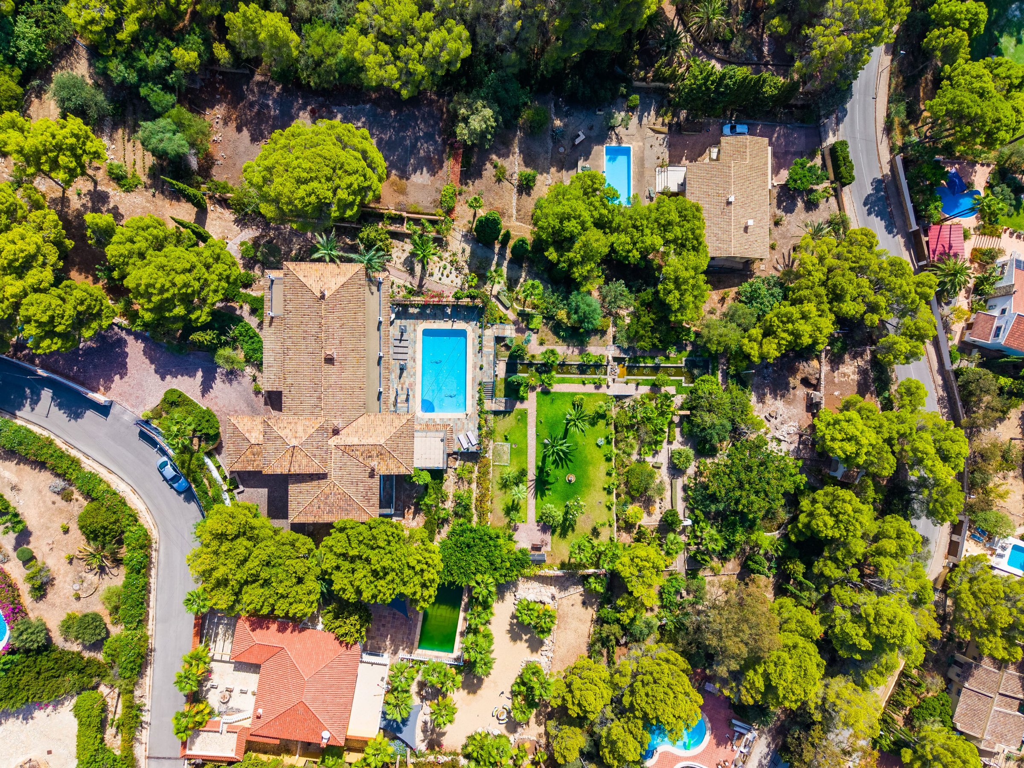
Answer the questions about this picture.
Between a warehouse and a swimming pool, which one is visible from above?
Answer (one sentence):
Of the two, only a swimming pool appears.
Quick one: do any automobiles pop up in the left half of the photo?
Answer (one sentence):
Yes, looking in the left half of the photo, one can make out an automobile.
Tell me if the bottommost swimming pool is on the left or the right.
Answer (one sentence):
The bottommost swimming pool is on the right side of the image.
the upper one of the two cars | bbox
[723,120,752,136]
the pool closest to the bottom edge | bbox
[639,702,711,762]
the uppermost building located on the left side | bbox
[225,261,453,523]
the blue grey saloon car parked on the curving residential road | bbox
[152,455,187,493]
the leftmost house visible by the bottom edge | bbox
[230,614,392,766]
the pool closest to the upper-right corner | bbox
[939,182,986,220]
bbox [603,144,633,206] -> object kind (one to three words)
swimming pool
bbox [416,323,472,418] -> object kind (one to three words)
swimming pool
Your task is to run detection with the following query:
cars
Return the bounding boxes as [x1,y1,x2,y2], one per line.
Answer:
[152,455,187,493]
[723,120,752,136]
